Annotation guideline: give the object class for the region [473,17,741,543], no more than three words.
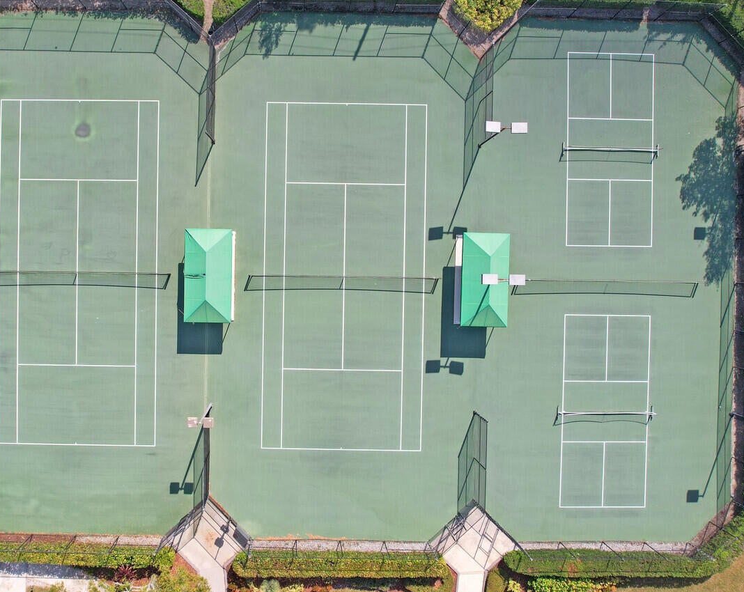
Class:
tennis court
